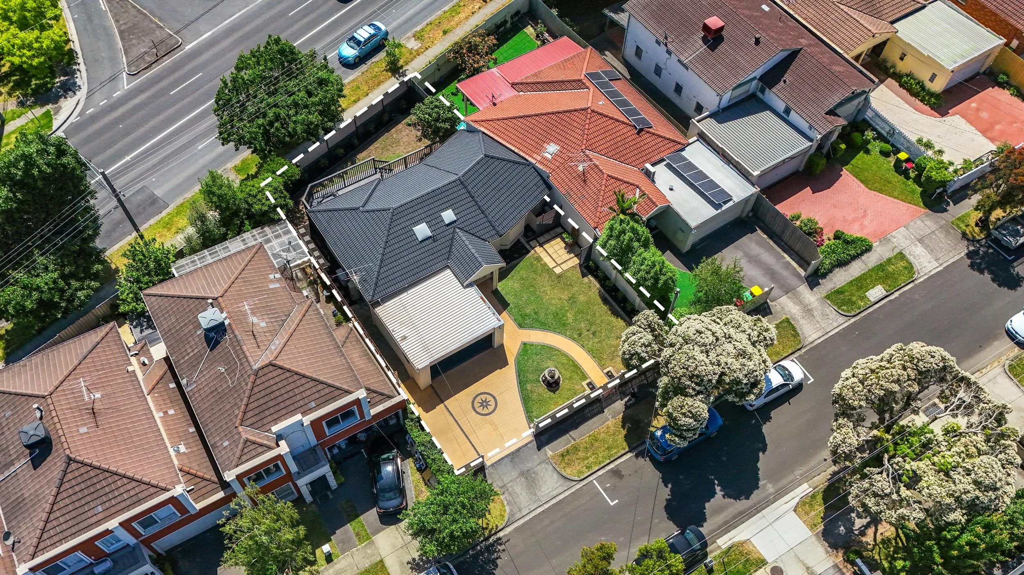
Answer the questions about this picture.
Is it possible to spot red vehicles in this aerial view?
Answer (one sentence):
No, the scene contains no red vehicle.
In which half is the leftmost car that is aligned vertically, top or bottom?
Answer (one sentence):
The leftmost car that is aligned vertically sits in the bottom half of the picture.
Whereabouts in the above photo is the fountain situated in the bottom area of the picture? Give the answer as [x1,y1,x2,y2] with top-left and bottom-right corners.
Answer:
[541,361,562,381]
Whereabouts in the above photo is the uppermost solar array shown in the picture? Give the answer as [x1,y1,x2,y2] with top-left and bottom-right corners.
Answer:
[586,63,652,129]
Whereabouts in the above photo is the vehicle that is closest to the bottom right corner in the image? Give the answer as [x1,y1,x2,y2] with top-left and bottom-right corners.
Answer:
[999,300,1024,337]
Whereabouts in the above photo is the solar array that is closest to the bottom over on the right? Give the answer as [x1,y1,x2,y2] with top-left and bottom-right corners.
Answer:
[664,143,735,207]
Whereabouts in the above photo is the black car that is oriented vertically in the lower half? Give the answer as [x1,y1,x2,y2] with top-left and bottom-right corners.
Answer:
[365,431,410,518]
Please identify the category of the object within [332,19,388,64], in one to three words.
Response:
car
